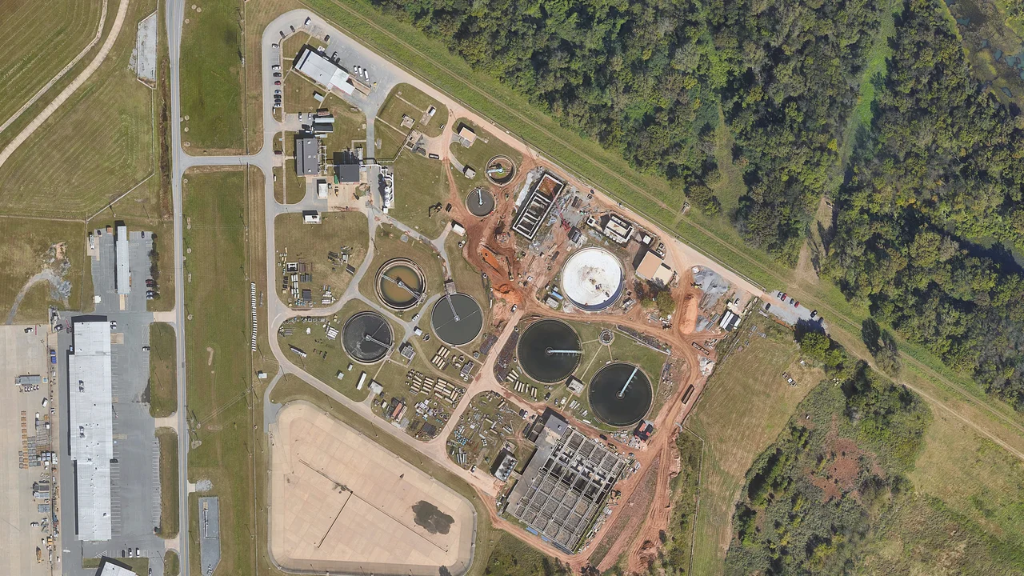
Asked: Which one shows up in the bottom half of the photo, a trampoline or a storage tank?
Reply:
storage tank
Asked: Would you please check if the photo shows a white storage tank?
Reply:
Yes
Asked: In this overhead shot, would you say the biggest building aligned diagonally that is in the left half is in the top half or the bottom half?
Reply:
top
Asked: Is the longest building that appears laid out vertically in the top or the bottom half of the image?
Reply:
bottom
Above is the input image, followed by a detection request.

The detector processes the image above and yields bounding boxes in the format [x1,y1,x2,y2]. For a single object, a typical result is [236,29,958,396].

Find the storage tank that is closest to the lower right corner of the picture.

[587,361,654,428]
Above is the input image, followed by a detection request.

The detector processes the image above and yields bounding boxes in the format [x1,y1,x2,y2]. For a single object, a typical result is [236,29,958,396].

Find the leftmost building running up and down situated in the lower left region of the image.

[67,321,113,540]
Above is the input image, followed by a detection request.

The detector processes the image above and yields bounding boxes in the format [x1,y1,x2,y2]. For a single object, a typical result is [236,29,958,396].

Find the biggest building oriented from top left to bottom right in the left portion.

[295,48,357,98]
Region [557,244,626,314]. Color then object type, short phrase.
white storage tank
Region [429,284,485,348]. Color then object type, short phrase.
gray storage tank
